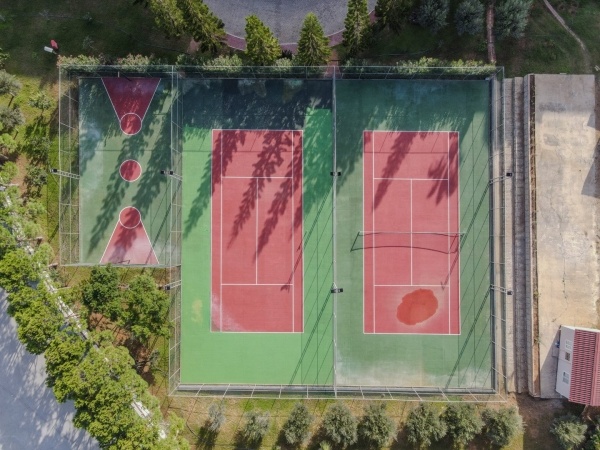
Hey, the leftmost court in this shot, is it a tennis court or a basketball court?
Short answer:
basketball court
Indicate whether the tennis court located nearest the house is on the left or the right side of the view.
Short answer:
right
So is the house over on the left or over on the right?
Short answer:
right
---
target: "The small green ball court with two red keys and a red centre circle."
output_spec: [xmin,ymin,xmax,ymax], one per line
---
[79,79,182,263]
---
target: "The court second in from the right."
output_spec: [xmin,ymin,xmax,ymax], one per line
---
[182,79,333,384]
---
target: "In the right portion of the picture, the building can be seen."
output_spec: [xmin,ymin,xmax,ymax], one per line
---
[556,325,600,405]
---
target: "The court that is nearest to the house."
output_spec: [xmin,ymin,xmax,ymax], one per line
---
[333,79,490,384]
